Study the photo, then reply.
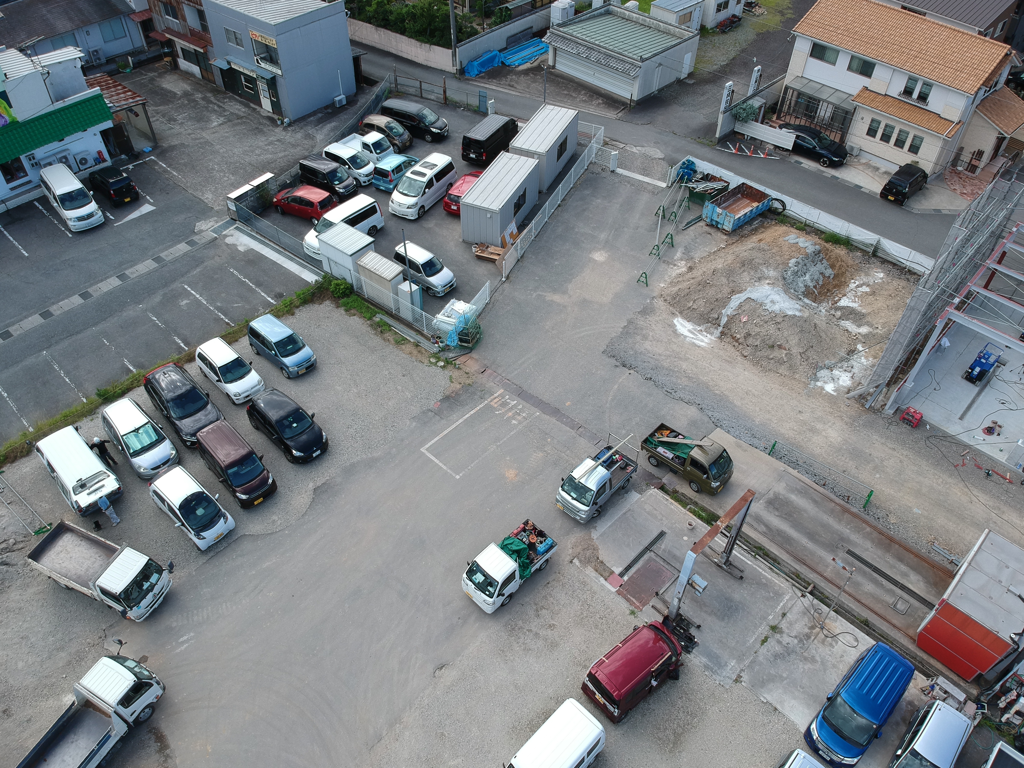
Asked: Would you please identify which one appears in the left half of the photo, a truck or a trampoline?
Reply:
truck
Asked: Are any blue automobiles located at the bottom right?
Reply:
Yes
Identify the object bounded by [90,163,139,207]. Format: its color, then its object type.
black car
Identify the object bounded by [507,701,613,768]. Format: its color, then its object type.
white van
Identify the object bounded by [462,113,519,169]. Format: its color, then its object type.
black van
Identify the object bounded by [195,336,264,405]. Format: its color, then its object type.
white car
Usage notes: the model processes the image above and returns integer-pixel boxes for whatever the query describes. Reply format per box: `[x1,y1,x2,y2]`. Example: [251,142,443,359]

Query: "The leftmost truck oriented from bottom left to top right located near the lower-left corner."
[6,644,168,768]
